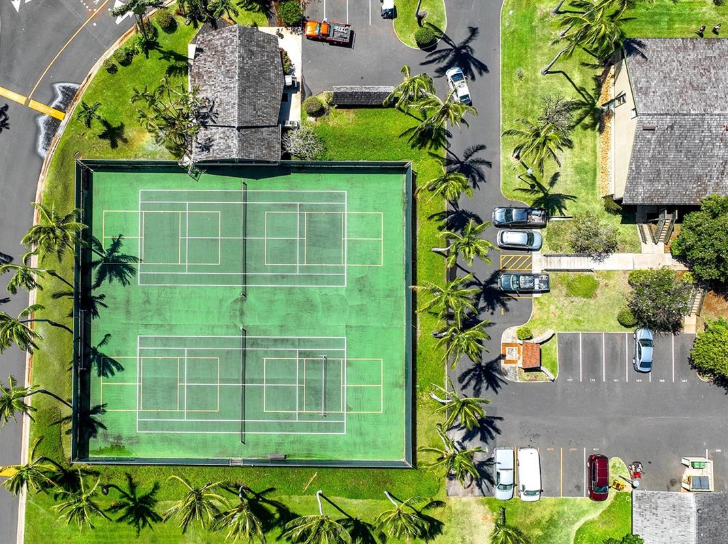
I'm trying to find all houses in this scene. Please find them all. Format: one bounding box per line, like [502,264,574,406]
[599,38,728,245]
[191,24,285,161]
[632,492,728,544]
